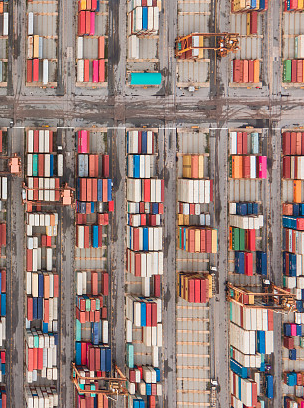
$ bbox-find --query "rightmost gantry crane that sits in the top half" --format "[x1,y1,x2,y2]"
[177,31,241,59]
